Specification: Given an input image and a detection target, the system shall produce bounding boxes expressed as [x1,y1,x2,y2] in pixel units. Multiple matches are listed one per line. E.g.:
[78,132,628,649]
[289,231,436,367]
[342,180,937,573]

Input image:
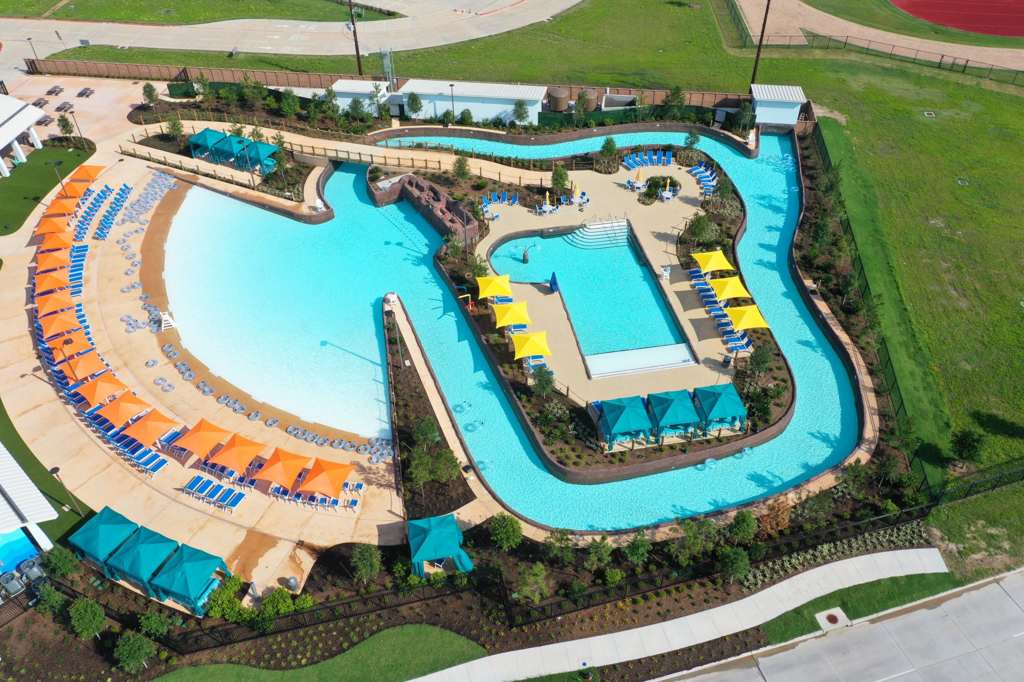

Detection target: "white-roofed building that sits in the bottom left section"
[0,443,60,572]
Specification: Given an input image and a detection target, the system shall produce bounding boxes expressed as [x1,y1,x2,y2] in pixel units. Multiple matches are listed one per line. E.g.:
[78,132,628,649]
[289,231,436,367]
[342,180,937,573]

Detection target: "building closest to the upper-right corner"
[752,81,807,125]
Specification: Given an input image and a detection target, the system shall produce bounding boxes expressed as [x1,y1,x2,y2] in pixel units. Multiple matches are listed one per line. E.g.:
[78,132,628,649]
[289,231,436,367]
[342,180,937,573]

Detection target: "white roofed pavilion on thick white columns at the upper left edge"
[0,89,46,176]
